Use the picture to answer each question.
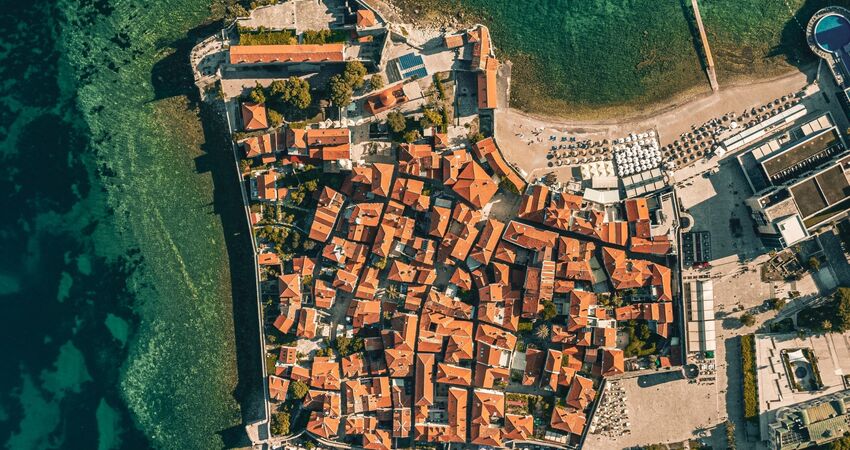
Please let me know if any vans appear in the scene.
No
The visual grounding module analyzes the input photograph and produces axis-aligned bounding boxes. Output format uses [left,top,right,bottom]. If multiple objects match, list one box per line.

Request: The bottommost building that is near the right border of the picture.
[761,385,850,450]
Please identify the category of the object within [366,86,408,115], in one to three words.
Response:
building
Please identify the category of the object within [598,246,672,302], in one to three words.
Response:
house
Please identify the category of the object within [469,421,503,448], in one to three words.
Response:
house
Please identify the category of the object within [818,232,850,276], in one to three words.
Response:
building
